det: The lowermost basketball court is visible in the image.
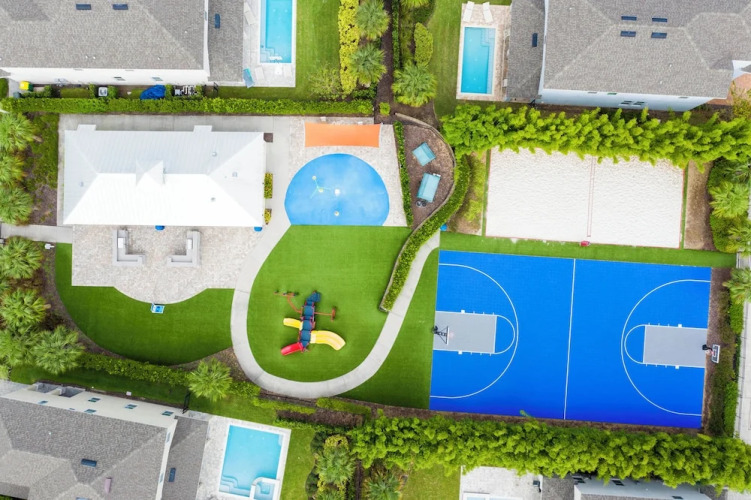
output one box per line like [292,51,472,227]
[431,251,711,430]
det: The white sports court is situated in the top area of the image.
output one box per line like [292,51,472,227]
[486,141,691,249]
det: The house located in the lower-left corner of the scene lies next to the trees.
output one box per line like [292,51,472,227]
[0,370,211,500]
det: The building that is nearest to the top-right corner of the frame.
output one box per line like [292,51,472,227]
[502,0,751,109]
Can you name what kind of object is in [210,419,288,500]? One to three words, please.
swimming pool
